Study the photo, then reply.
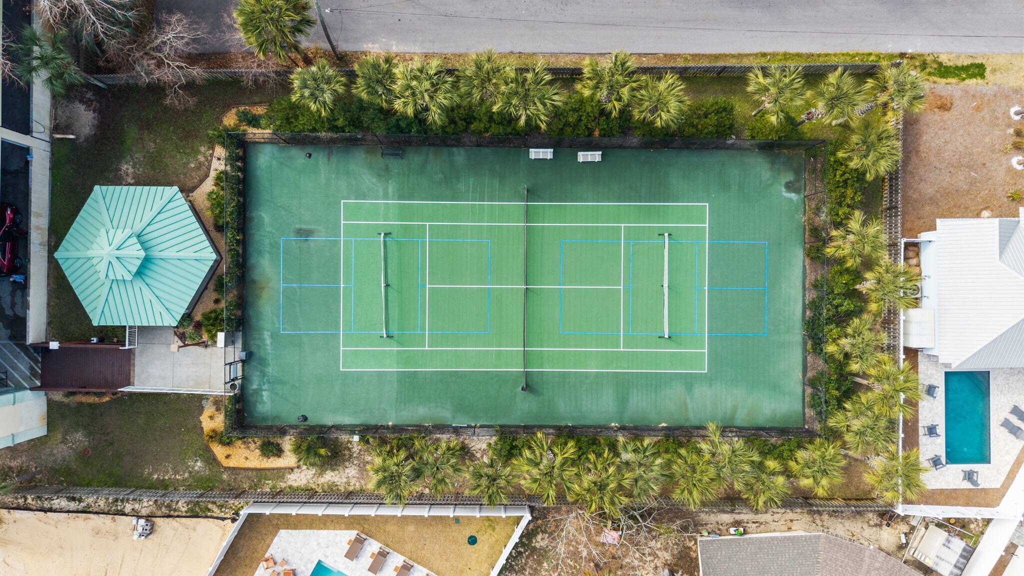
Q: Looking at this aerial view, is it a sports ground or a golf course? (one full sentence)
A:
What you see here is a sports ground.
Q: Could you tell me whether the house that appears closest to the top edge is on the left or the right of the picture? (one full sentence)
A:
The house that appears closest to the top edge sits on the right side.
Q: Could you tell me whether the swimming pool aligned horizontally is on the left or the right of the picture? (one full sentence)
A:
You can find the swimming pool aligned horizontally on the left side of the picture.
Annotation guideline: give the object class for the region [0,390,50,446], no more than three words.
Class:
building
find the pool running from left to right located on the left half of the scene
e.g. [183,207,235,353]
[307,555,357,576]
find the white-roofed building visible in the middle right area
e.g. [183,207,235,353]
[918,207,1024,370]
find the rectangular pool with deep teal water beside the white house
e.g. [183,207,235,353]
[943,367,993,469]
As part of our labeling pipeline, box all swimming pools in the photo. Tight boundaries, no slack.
[307,555,357,576]
[943,367,993,469]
